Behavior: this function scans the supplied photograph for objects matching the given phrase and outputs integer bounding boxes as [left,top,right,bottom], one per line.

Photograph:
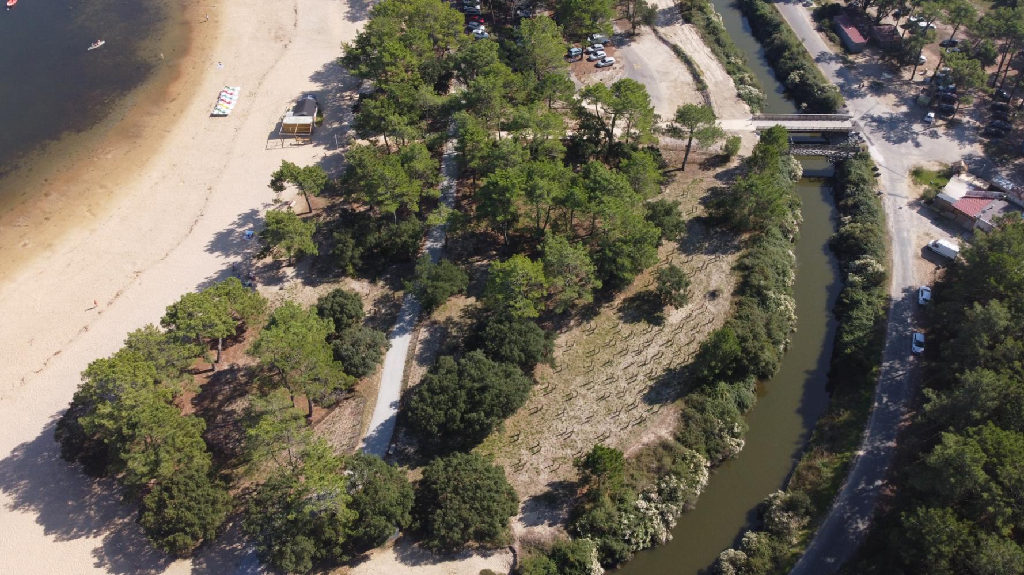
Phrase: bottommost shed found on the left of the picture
[279,98,324,148]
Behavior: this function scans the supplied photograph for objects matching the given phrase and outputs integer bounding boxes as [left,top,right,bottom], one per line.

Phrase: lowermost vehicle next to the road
[913,330,927,351]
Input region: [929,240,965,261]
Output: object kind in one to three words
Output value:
vehicle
